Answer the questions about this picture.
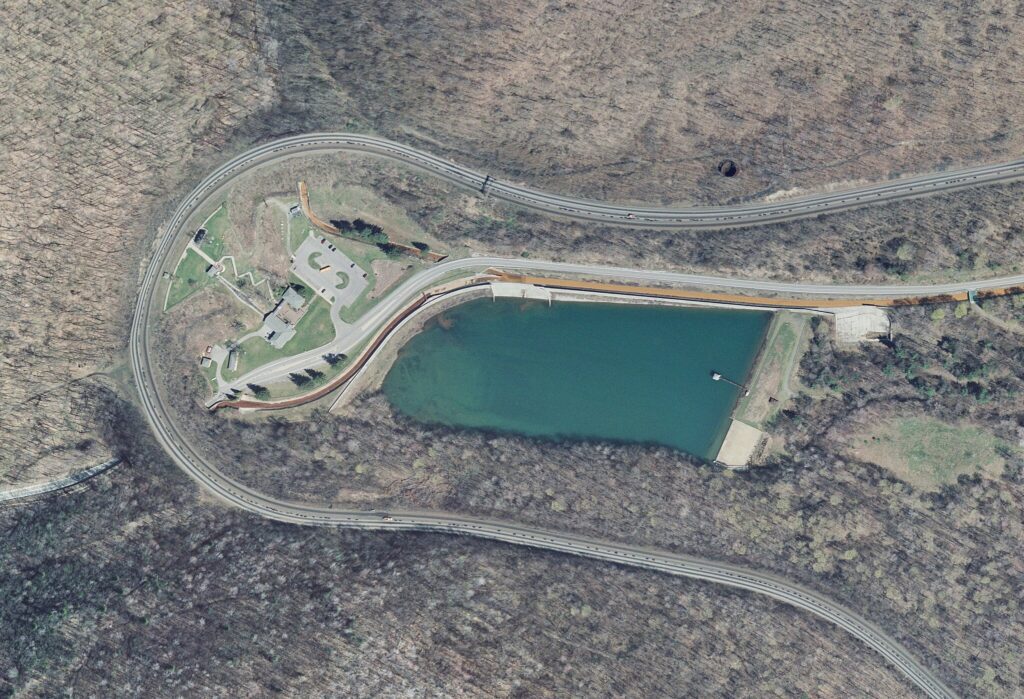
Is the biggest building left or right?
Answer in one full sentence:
The biggest building appears in the left half of the scene.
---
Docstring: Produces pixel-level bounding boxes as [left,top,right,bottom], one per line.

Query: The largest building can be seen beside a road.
[264,287,308,348]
